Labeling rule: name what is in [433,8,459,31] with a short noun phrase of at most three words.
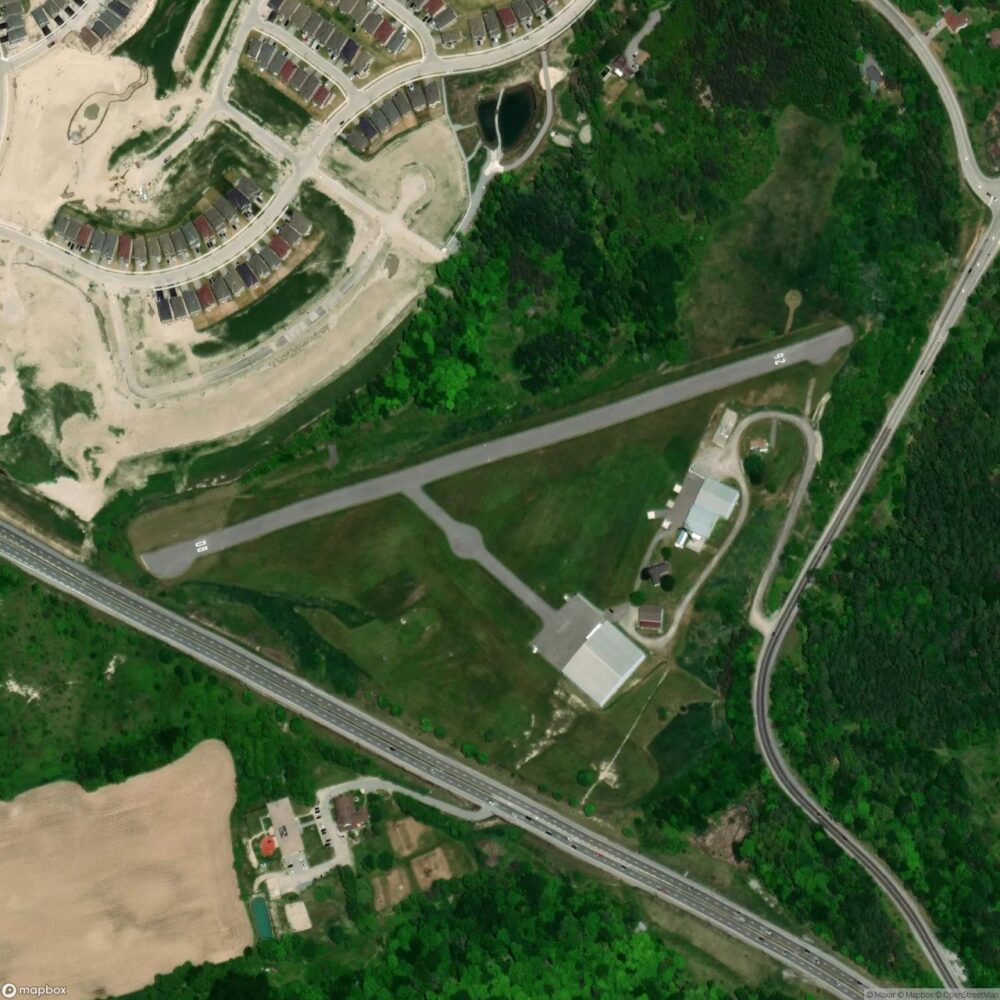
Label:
house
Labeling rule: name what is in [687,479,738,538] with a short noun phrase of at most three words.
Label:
hangar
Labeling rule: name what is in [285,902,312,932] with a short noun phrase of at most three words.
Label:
sports court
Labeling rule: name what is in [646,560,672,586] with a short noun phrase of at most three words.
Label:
house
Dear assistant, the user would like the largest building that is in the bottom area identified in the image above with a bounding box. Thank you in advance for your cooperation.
[562,620,646,705]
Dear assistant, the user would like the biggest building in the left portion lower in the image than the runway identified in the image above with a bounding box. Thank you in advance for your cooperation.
[268,798,305,857]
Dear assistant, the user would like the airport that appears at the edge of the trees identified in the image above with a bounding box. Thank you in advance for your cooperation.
[141,325,854,671]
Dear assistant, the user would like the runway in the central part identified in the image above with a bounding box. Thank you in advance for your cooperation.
[141,325,854,581]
